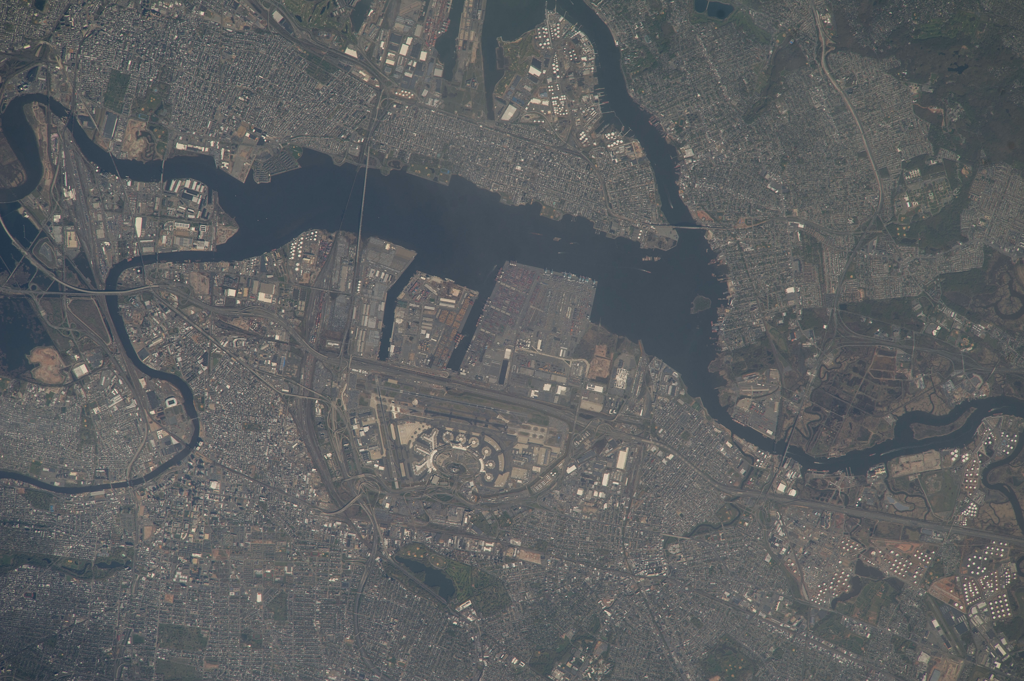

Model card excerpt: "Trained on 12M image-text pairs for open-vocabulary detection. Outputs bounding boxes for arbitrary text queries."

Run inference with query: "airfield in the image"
[349,372,569,493]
